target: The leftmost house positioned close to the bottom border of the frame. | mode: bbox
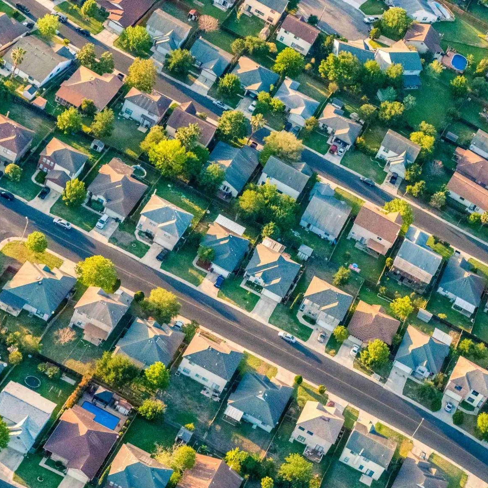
[0,380,58,470]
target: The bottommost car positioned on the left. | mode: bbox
[172,316,185,333]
